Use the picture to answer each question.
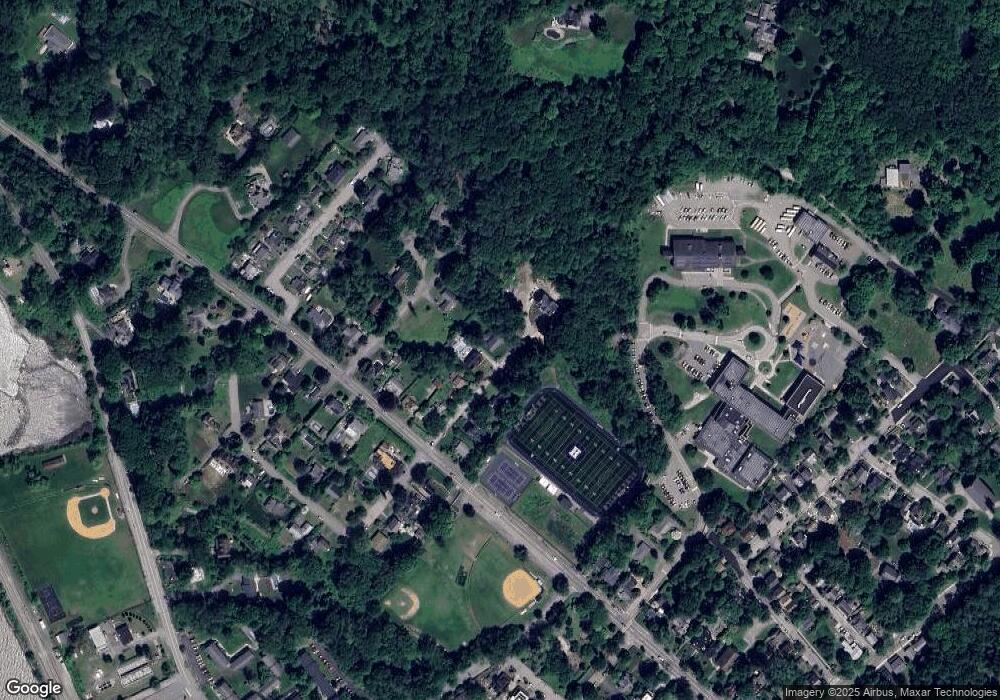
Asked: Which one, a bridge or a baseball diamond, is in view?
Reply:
baseball diamond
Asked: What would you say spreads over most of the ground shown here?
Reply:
trees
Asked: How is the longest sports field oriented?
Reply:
diagonally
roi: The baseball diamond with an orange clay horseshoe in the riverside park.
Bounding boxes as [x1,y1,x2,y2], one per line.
[66,488,115,538]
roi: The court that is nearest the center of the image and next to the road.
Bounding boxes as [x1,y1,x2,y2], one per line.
[480,452,533,506]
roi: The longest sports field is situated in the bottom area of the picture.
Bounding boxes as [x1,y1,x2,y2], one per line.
[511,393,639,513]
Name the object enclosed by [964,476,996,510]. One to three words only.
building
